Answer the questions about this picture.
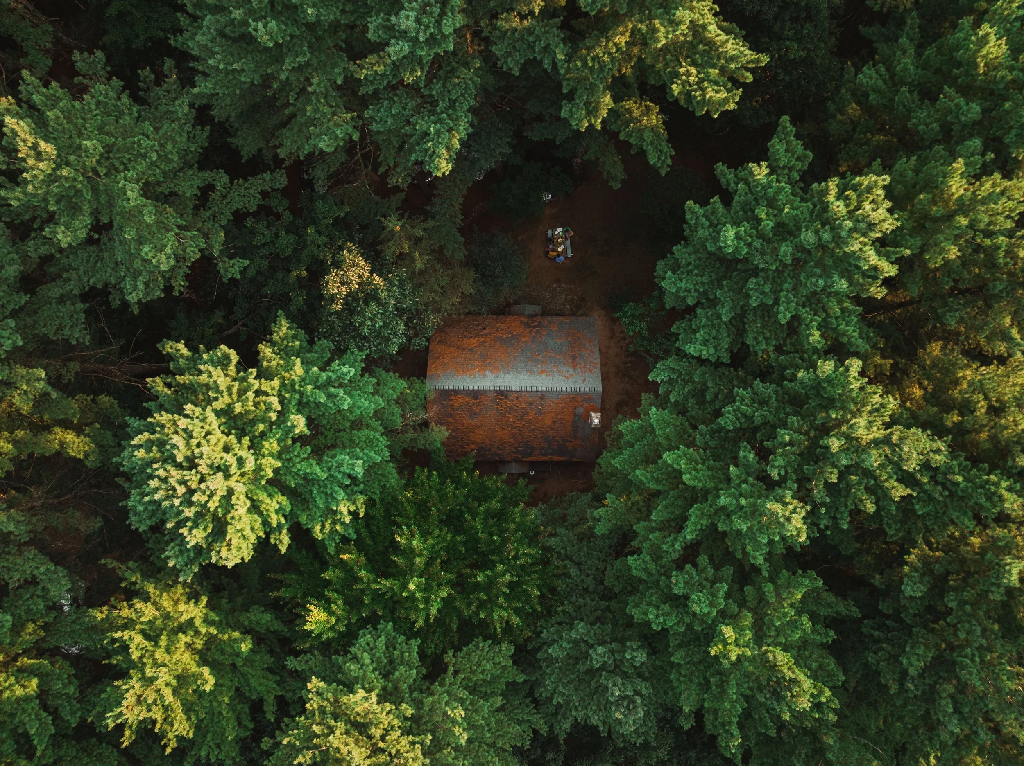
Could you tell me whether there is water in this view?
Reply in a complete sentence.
No, there is no water in the image.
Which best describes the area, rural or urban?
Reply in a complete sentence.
It looks rural.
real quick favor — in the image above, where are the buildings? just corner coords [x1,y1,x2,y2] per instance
[426,305,602,474]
